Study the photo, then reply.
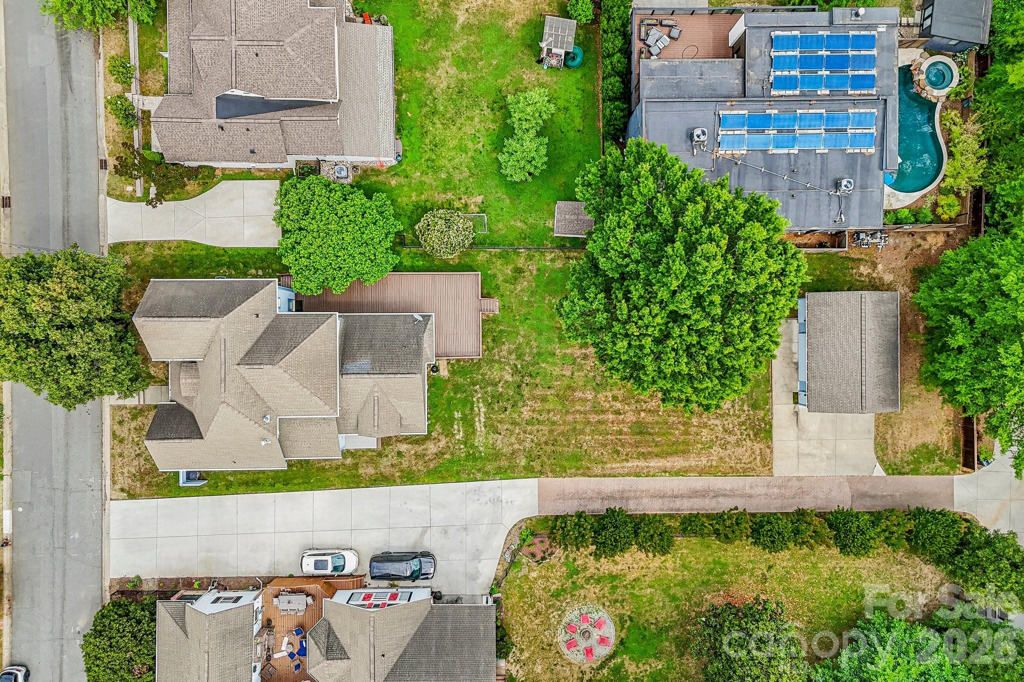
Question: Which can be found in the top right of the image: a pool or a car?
pool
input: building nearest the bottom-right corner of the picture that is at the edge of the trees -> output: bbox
[797,290,901,415]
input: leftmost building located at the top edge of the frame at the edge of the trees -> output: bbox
[151,0,399,169]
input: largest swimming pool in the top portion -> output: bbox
[885,65,949,197]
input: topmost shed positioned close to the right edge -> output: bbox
[906,0,990,59]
